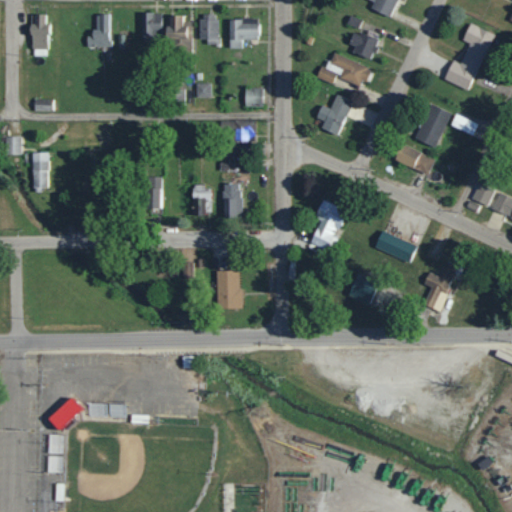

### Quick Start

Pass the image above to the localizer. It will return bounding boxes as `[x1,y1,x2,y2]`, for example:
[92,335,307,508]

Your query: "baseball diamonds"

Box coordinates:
[68,424,218,512]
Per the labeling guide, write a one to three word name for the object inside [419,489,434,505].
work vehicle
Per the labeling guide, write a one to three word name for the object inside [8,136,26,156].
building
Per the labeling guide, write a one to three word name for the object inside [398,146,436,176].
house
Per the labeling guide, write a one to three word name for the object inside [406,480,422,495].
work vehicle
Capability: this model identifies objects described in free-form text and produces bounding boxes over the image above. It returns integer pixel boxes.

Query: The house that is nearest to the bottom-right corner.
[426,272,454,311]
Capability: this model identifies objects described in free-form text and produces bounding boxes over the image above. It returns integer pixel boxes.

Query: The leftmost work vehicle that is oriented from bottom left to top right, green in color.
[351,456,366,472]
